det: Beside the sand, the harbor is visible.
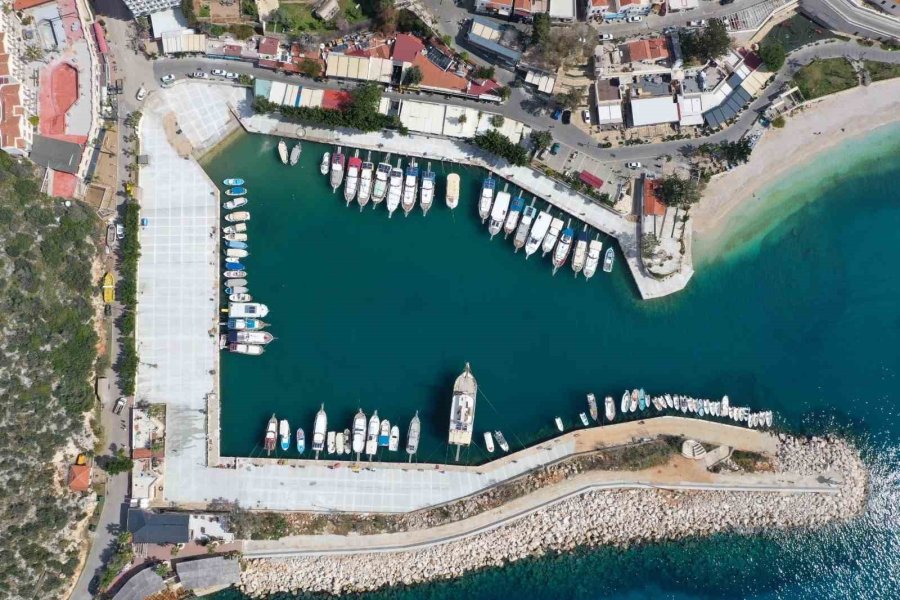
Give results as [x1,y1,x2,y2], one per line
[134,79,693,515]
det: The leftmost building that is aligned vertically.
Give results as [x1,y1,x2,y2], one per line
[0,32,49,155]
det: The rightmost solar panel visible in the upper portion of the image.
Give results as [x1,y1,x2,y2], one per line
[422,46,452,71]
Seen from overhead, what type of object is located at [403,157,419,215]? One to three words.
boat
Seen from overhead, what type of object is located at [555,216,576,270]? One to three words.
boat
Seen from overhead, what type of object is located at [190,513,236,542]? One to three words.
house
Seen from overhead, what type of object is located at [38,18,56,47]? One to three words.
swimming pool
